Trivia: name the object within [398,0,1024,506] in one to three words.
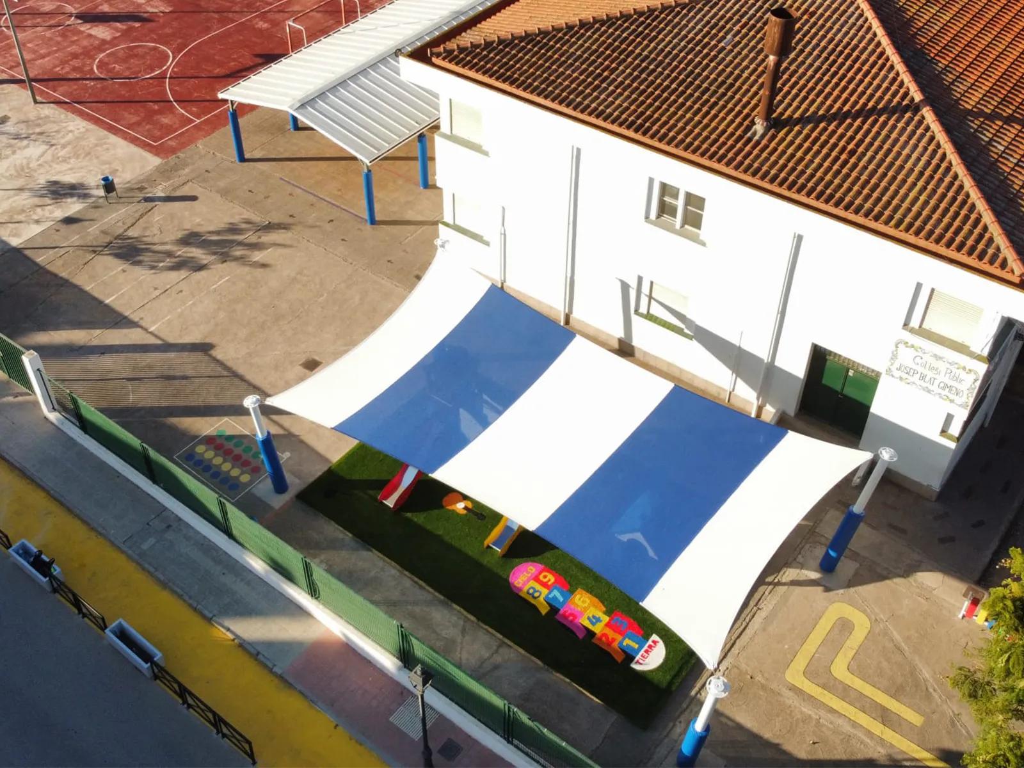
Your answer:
building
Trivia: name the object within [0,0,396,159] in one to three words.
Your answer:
sports court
